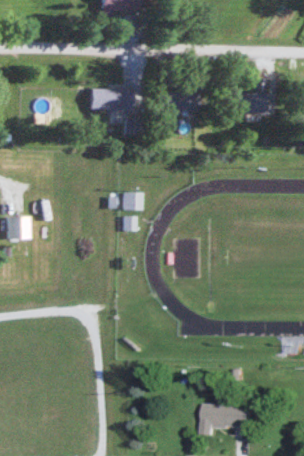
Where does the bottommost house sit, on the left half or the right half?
right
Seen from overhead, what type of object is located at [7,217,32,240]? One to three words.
house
